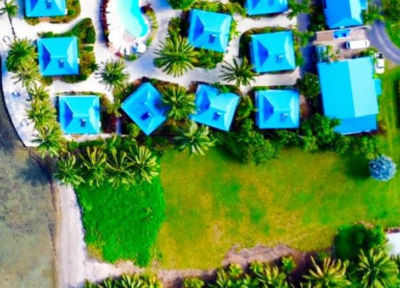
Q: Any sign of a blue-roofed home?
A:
Yes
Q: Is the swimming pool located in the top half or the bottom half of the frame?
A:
top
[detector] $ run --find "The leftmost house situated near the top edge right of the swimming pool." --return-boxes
[183,10,232,52]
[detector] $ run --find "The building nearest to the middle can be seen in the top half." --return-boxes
[186,84,239,127]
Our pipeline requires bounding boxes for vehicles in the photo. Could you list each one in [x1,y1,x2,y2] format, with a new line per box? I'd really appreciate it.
[343,39,366,49]
[371,54,384,75]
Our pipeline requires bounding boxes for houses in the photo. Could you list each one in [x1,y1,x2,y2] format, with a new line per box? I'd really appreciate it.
[320,0,366,28]
[186,84,239,127]
[34,37,79,75]
[183,10,232,52]
[383,229,400,260]
[21,0,65,17]
[246,31,294,72]
[253,90,298,128]
[117,83,167,134]
[237,0,286,15]
[56,95,100,133]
